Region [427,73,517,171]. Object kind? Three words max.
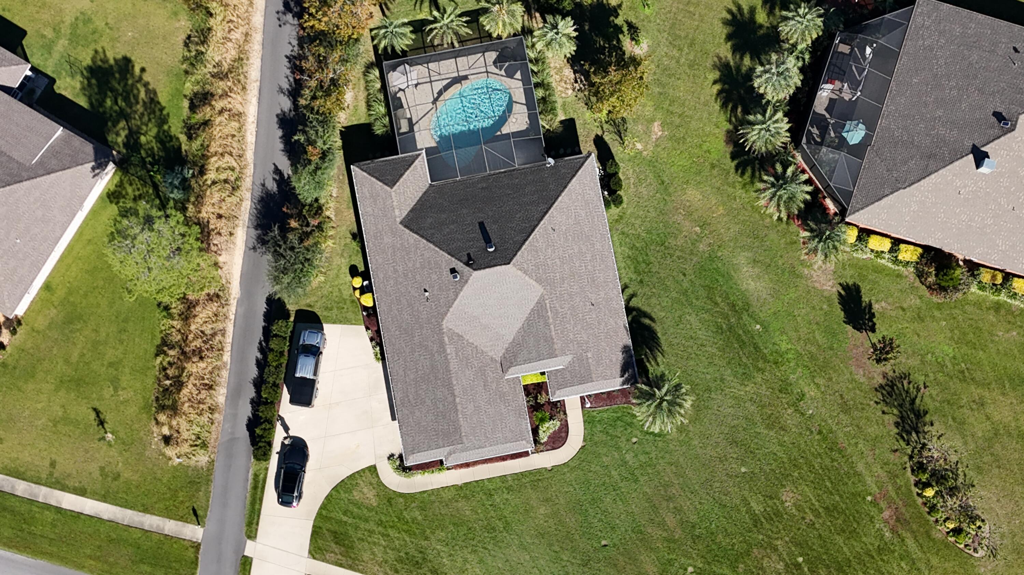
swimming pool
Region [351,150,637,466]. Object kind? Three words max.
house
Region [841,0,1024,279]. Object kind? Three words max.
house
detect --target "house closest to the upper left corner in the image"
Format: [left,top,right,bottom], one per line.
[0,29,127,324]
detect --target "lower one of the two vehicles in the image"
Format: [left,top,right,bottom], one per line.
[277,444,310,509]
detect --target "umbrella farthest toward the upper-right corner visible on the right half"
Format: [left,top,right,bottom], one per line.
[840,116,869,146]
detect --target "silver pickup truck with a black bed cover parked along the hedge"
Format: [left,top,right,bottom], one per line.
[289,325,329,410]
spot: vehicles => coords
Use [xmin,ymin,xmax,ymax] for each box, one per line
[289,325,329,410]
[277,444,310,509]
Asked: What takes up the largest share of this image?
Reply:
grass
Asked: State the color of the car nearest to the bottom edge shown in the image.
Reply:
black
